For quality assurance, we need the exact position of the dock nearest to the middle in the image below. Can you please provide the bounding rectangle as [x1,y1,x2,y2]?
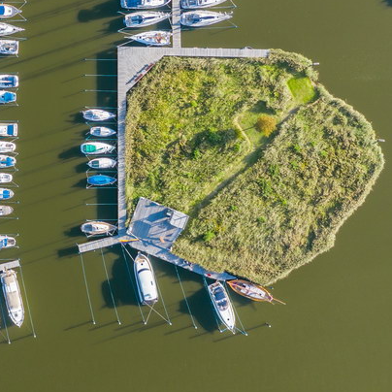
[77,234,122,253]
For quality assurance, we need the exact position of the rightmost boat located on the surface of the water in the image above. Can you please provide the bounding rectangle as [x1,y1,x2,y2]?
[226,280,286,308]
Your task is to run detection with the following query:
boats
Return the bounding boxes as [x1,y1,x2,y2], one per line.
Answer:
[0,73,24,89]
[181,11,235,28]
[181,0,232,9]
[120,11,174,31]
[226,280,286,308]
[128,31,172,47]
[82,108,116,122]
[137,250,160,308]
[81,222,120,235]
[0,141,18,153]
[0,3,23,18]
[0,172,17,184]
[0,235,19,249]
[0,268,23,328]
[0,189,15,200]
[0,90,17,105]
[0,122,23,137]
[0,40,23,56]
[116,0,172,10]
[206,277,237,336]
[90,126,116,137]
[0,205,14,217]
[84,157,120,169]
[0,22,26,36]
[76,141,116,155]
[0,155,20,169]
